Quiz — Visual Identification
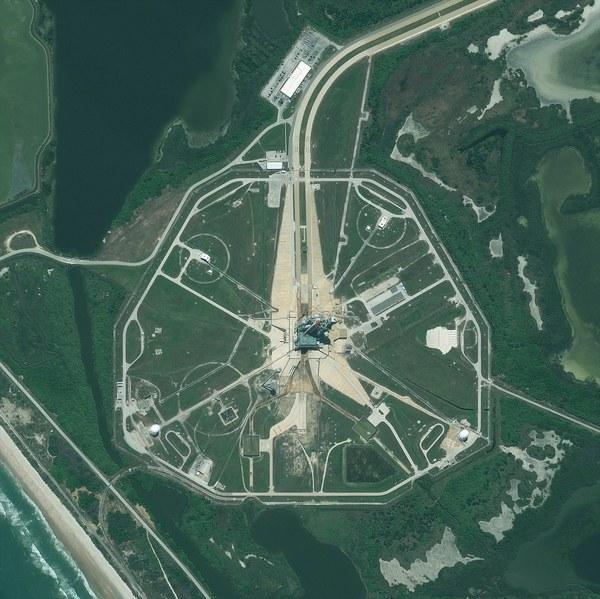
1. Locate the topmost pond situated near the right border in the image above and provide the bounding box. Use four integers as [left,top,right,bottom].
[506,0,600,114]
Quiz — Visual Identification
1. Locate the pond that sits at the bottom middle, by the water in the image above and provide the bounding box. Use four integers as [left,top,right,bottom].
[253,508,366,599]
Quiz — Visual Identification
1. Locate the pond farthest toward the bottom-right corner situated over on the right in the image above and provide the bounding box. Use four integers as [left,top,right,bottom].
[506,486,600,594]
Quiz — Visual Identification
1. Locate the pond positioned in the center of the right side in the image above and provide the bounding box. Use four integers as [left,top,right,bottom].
[536,146,600,383]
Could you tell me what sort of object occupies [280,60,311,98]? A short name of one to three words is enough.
building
